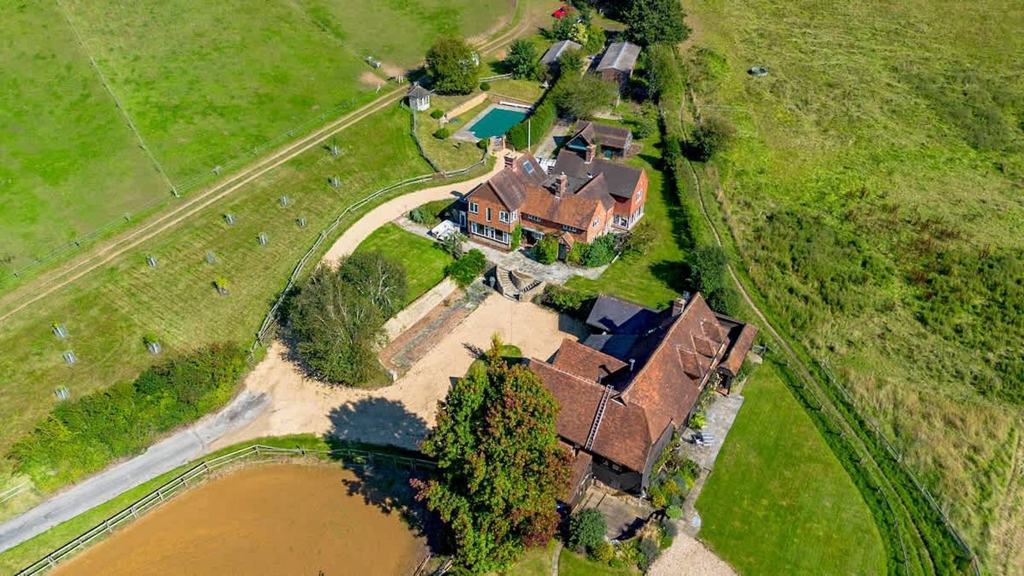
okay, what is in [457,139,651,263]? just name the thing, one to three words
house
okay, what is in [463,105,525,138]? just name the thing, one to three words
swimming pool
